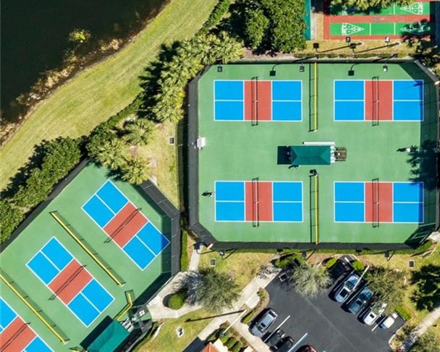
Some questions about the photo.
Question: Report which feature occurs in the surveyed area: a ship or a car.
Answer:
car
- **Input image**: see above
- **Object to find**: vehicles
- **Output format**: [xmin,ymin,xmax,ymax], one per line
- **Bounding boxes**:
[268,328,285,347]
[250,307,279,338]
[348,284,373,317]
[335,271,361,304]
[361,297,388,330]
[329,251,354,284]
[380,311,396,330]
[279,337,296,352]
[300,343,317,352]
